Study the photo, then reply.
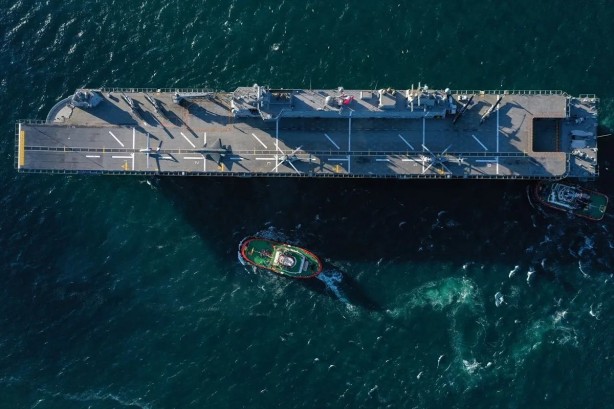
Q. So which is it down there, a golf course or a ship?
ship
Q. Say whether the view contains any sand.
No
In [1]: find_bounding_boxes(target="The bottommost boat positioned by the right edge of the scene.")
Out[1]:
[532,181,608,226]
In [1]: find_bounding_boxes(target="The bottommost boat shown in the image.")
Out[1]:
[239,236,322,277]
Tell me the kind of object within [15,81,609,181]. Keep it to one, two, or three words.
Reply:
ship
